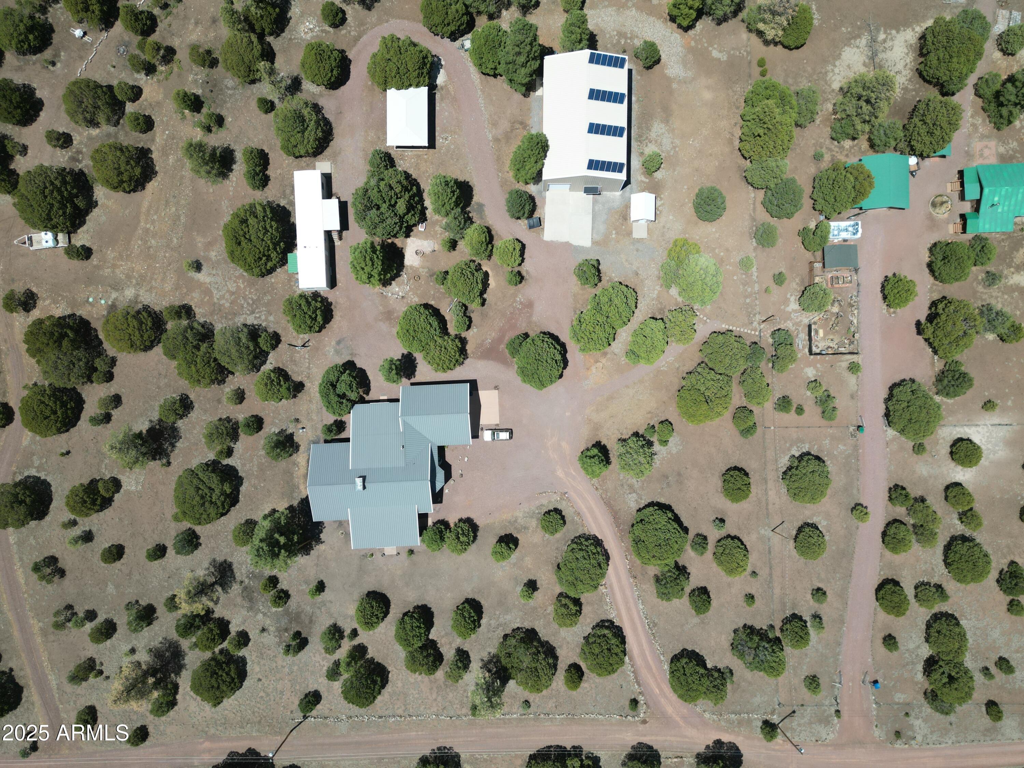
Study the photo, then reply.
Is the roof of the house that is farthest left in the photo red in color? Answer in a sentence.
No, the roof of the house that is farthest left is white.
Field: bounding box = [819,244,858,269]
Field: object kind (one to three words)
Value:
shed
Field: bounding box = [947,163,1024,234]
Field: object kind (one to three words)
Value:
house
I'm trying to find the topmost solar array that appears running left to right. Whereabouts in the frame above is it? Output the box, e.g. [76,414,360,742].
[589,52,625,69]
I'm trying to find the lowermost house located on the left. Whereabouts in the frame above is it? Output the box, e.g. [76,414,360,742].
[307,383,472,550]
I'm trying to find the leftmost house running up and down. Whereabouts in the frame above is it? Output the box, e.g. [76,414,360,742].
[288,170,344,290]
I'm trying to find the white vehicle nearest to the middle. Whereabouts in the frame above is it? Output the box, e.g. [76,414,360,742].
[484,430,511,442]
